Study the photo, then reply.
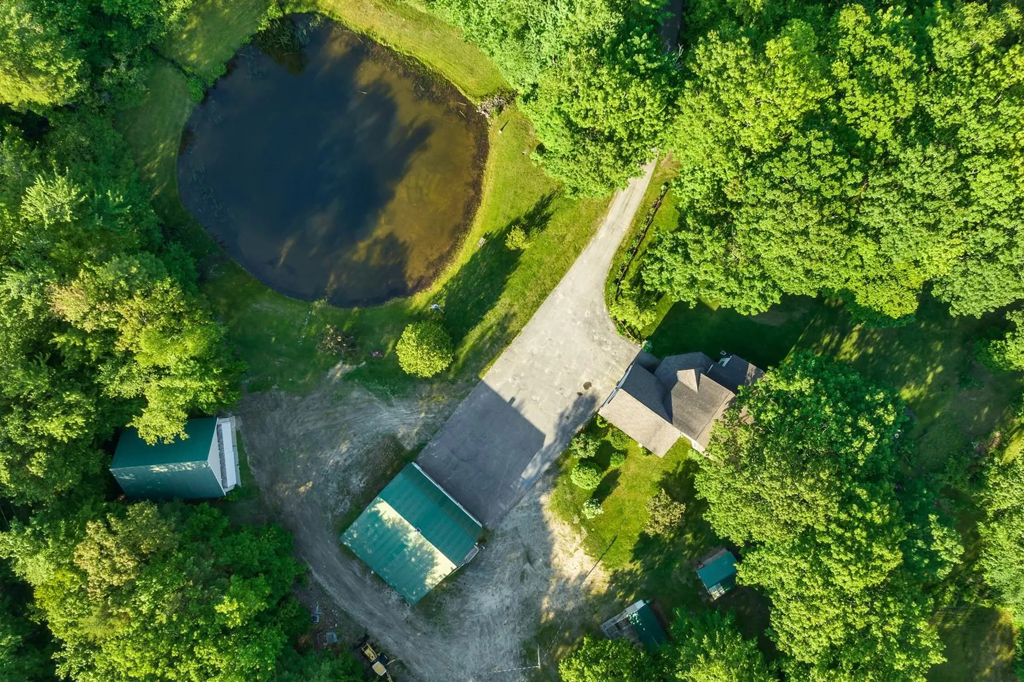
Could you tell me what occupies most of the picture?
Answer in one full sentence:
Most of the picture is covered by trees.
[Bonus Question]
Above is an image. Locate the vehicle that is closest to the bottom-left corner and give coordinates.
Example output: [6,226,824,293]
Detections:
[355,622,402,682]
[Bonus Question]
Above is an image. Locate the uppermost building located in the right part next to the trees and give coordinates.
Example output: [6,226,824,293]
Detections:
[597,348,766,458]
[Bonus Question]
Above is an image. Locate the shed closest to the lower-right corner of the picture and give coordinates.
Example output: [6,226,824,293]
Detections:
[689,538,742,598]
